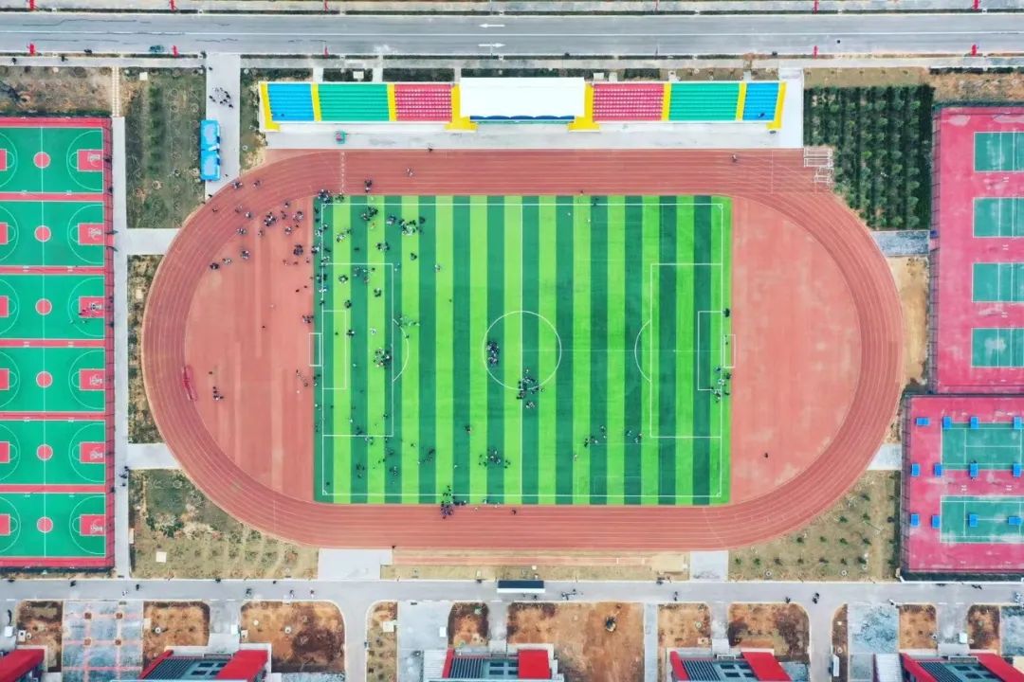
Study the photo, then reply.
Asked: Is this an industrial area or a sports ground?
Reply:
sports ground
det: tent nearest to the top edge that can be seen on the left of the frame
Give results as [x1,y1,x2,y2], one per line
[201,120,225,151]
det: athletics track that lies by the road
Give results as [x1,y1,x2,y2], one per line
[141,147,904,552]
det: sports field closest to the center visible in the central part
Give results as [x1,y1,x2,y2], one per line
[314,195,732,505]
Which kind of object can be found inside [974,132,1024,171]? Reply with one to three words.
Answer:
sports court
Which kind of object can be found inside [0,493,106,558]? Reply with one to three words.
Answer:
basketball court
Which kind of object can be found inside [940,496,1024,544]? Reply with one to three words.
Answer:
tennis court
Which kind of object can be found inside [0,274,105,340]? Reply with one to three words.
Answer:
basketball court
